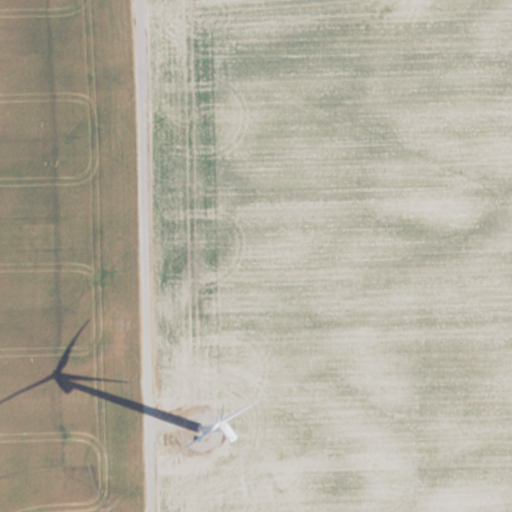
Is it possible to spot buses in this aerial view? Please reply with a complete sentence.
No, I can't see a single bus in this photo.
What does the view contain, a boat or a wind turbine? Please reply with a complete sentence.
It is a wind turbine that can be seen here.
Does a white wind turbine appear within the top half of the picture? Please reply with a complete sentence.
No, the scene shows no white wind turbine within the top half of the picture.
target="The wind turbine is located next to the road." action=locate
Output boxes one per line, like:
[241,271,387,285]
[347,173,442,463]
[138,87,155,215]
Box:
[131,372,298,484]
